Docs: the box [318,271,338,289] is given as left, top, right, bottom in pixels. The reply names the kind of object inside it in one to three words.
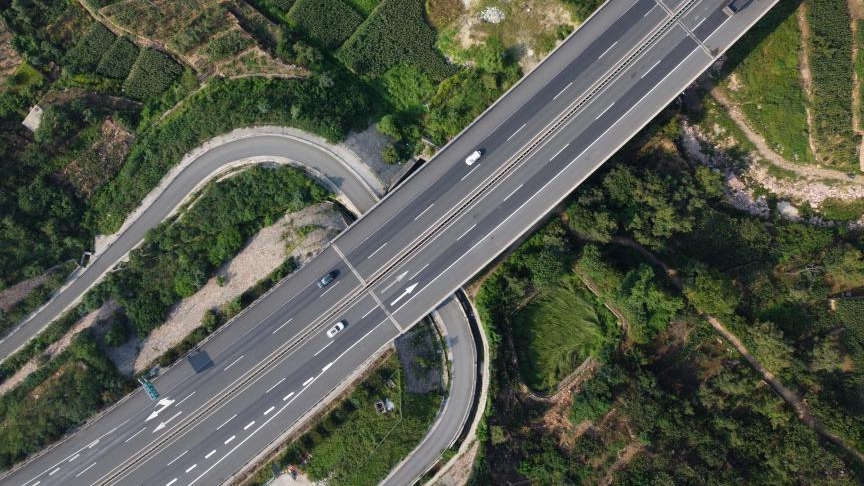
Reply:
car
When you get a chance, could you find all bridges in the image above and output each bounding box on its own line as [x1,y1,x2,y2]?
[327,0,777,335]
